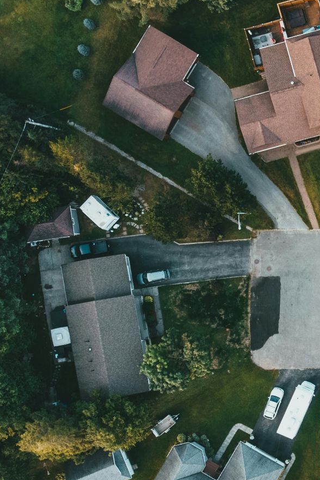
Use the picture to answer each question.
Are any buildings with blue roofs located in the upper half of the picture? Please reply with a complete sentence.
No, looking in the upper half of the picture, there is no building with a blue roof.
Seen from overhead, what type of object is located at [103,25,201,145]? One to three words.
building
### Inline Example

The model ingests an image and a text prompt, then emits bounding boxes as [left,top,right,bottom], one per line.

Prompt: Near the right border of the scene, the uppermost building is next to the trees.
[235,30,320,155]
